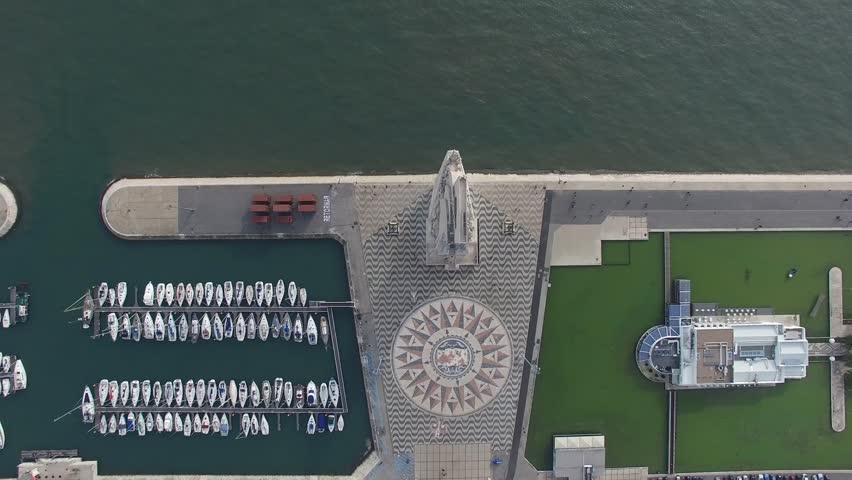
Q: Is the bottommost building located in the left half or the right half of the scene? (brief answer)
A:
right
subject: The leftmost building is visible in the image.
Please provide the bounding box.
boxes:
[551,435,607,480]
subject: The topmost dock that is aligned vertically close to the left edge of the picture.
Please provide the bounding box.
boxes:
[0,181,22,237]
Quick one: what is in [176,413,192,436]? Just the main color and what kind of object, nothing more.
white boat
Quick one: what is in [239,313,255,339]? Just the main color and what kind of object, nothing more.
gray boat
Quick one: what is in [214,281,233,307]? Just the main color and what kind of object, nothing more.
white boat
